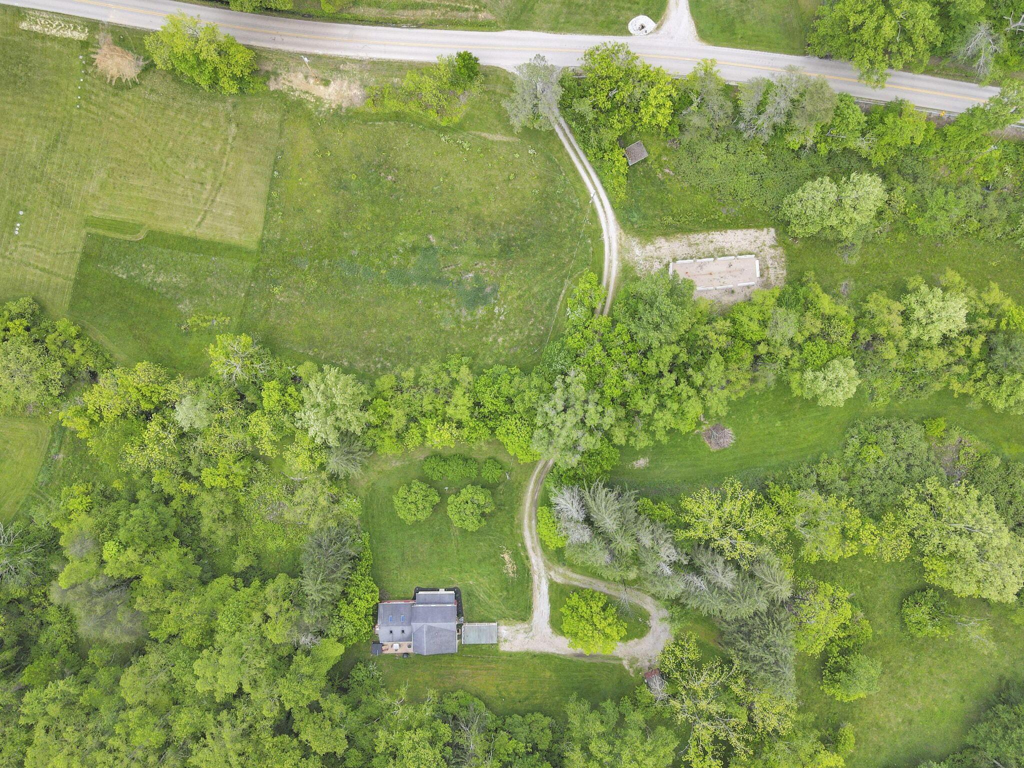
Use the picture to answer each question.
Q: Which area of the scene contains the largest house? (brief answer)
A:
bottom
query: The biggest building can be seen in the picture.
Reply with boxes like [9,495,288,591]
[378,583,461,658]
